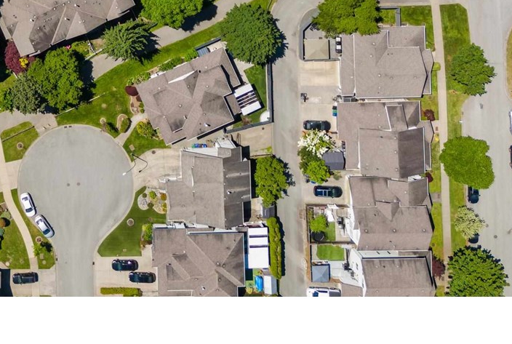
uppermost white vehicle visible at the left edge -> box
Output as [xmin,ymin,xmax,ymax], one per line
[19,191,35,216]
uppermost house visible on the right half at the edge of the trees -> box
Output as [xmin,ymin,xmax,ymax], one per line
[330,24,431,98]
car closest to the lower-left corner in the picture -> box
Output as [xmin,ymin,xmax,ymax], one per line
[12,270,39,285]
